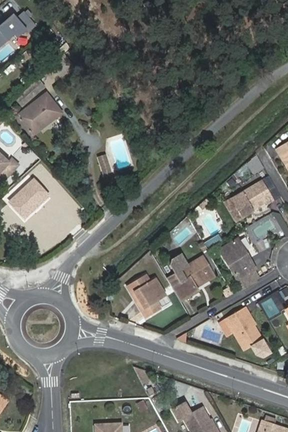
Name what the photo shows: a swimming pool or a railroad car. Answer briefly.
swimming pool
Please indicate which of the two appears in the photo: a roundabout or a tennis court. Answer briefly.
roundabout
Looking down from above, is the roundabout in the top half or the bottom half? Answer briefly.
bottom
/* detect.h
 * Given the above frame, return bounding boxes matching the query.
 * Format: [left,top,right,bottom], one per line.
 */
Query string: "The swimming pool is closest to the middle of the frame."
[169,217,195,248]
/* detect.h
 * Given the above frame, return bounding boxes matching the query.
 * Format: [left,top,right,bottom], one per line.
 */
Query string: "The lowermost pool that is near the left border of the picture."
[0,123,38,174]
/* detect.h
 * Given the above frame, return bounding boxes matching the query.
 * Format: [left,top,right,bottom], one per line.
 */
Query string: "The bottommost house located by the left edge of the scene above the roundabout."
[8,178,48,219]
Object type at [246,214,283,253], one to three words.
swimming pool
